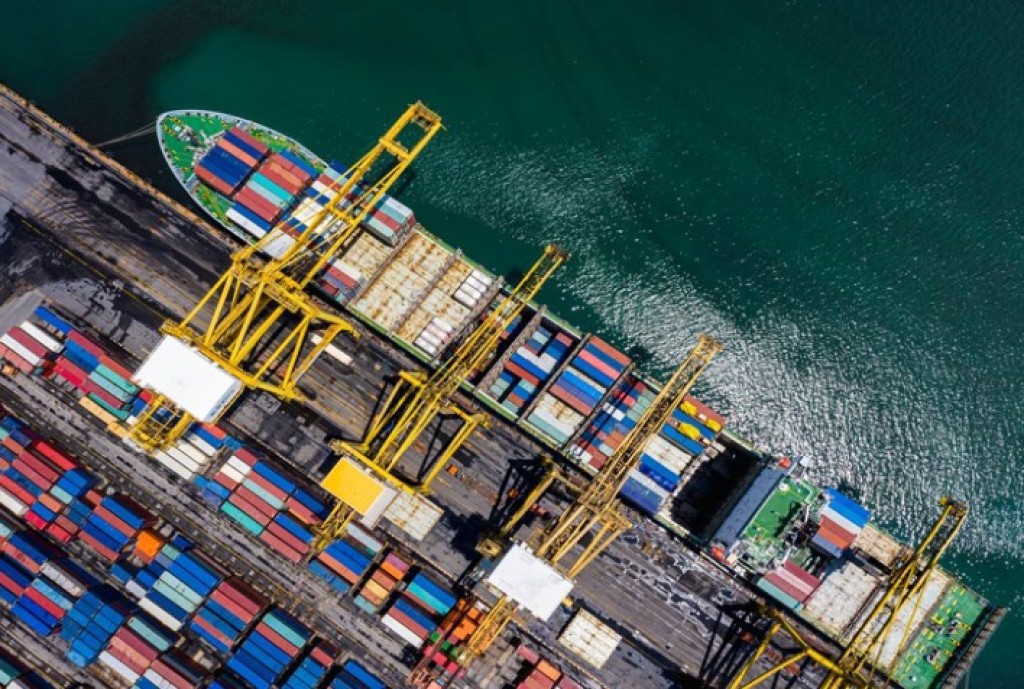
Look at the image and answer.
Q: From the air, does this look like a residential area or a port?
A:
port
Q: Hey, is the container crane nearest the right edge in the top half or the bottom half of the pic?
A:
bottom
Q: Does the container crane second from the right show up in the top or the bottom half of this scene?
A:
bottom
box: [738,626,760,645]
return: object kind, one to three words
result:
vehicle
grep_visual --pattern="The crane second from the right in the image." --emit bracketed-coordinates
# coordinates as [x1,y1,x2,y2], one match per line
[459,332,724,668]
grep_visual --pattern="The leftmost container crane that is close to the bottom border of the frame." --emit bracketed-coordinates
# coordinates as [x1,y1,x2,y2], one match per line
[397,563,490,689]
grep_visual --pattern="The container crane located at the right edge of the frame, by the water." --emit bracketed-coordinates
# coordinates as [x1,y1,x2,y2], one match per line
[696,500,974,689]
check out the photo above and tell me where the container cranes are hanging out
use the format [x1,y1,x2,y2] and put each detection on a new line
[397,563,490,689]
[696,500,974,689]
[459,332,724,668]
[310,244,565,550]
[133,102,445,450]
